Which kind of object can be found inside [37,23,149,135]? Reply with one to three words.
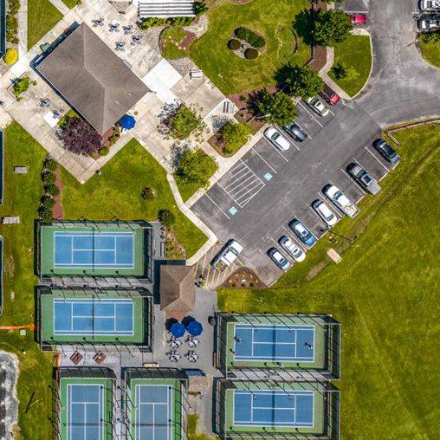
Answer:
building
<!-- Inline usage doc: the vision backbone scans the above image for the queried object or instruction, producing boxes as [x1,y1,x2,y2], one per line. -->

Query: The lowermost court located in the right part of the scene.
[217,379,339,440]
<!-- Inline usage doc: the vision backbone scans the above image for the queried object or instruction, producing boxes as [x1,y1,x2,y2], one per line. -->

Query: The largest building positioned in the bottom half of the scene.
[160,264,195,312]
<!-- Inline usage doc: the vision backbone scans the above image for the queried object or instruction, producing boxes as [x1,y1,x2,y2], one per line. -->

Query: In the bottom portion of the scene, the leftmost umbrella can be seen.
[170,322,184,336]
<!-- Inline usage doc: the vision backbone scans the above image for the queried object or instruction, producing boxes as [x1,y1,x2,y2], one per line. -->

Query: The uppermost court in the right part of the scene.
[218,314,340,384]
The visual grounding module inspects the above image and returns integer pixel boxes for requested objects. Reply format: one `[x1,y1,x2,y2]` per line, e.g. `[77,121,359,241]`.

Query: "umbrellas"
[119,114,134,129]
[170,322,184,336]
[188,321,202,335]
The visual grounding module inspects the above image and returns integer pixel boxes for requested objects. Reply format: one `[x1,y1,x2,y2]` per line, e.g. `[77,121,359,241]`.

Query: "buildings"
[37,23,149,135]
[160,264,195,312]
[186,371,207,392]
